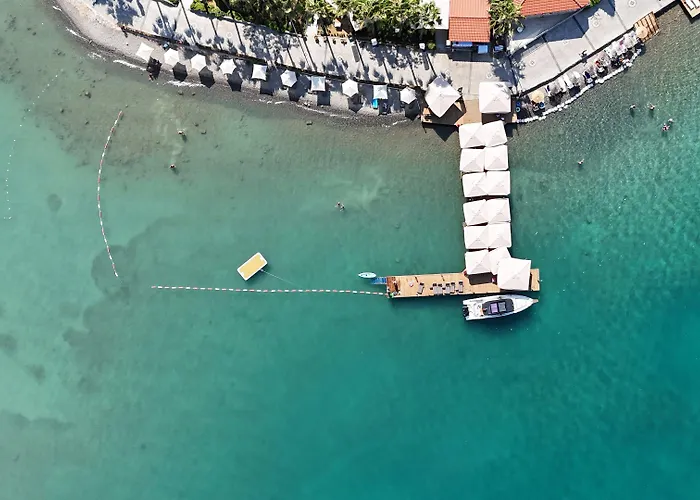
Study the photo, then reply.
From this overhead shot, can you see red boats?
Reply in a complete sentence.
No, there isn't any red boat down there.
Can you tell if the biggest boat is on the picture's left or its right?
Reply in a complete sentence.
The biggest boat is on the right side of the image.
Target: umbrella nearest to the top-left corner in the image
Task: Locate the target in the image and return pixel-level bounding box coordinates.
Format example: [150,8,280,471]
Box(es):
[135,40,156,62]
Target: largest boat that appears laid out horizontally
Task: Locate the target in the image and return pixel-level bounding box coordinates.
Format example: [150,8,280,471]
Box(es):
[459,290,539,319]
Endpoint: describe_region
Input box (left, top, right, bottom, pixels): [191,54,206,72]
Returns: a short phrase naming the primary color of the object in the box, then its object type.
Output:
white umbrella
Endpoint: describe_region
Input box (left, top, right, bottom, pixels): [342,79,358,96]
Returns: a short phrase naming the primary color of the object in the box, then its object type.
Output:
white umbrella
